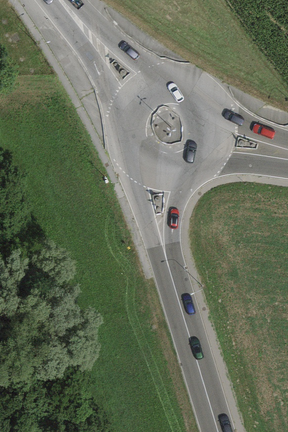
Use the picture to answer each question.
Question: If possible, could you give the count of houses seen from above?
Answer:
0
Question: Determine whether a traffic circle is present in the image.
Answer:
Yes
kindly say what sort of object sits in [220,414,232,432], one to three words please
vehicle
